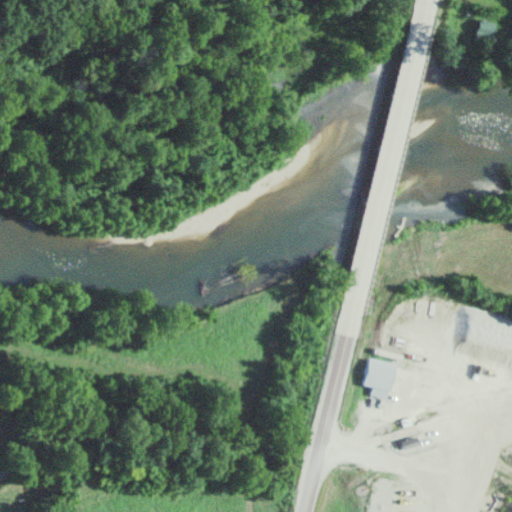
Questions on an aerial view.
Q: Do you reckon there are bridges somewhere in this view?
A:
Yes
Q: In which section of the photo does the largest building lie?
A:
bottom right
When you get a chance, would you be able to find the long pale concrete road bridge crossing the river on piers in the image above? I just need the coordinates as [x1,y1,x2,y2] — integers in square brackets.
[336,28,434,339]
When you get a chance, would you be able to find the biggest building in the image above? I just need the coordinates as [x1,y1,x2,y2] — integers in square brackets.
[362,359,396,400]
